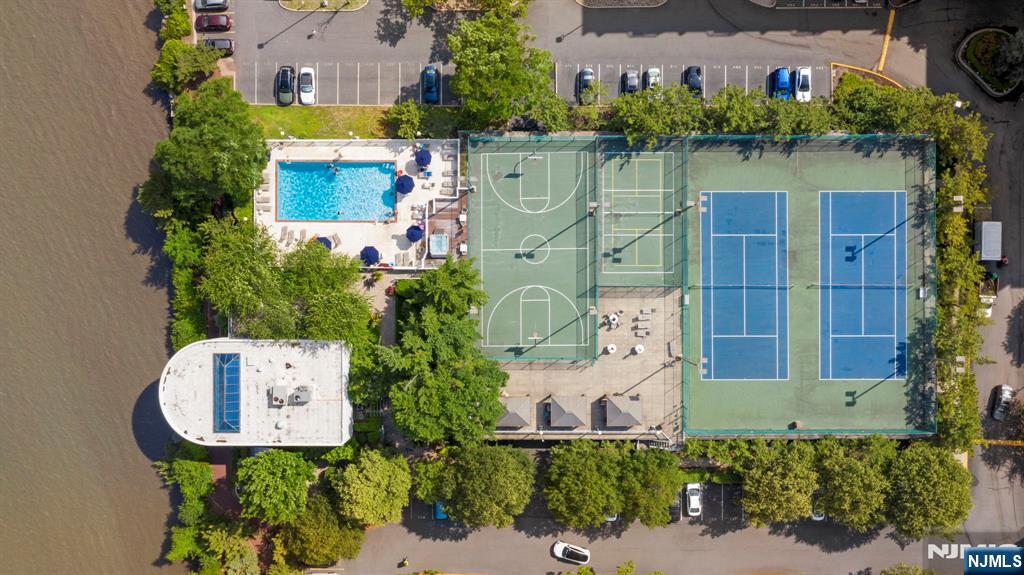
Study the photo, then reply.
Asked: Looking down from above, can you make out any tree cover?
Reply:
Yes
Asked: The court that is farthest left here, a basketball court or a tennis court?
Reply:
basketball court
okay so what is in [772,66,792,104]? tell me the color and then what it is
blue car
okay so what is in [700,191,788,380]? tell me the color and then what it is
blue tennis court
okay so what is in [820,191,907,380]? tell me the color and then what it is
blue tennis court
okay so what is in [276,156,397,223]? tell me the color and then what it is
blue swimming pool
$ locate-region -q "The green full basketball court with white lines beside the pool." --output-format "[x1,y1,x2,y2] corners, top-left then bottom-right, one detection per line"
[468,141,594,358]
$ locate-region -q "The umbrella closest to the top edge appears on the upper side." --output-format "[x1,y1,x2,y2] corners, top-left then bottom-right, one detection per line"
[415,149,432,166]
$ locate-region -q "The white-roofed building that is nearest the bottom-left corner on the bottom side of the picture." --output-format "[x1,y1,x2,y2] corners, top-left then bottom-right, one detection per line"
[158,336,359,461]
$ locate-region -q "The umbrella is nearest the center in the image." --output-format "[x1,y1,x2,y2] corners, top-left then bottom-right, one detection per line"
[407,225,424,242]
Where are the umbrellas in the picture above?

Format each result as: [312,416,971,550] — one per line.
[415,149,432,166]
[315,235,333,253]
[407,225,424,242]
[360,246,379,265]
[395,175,415,194]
